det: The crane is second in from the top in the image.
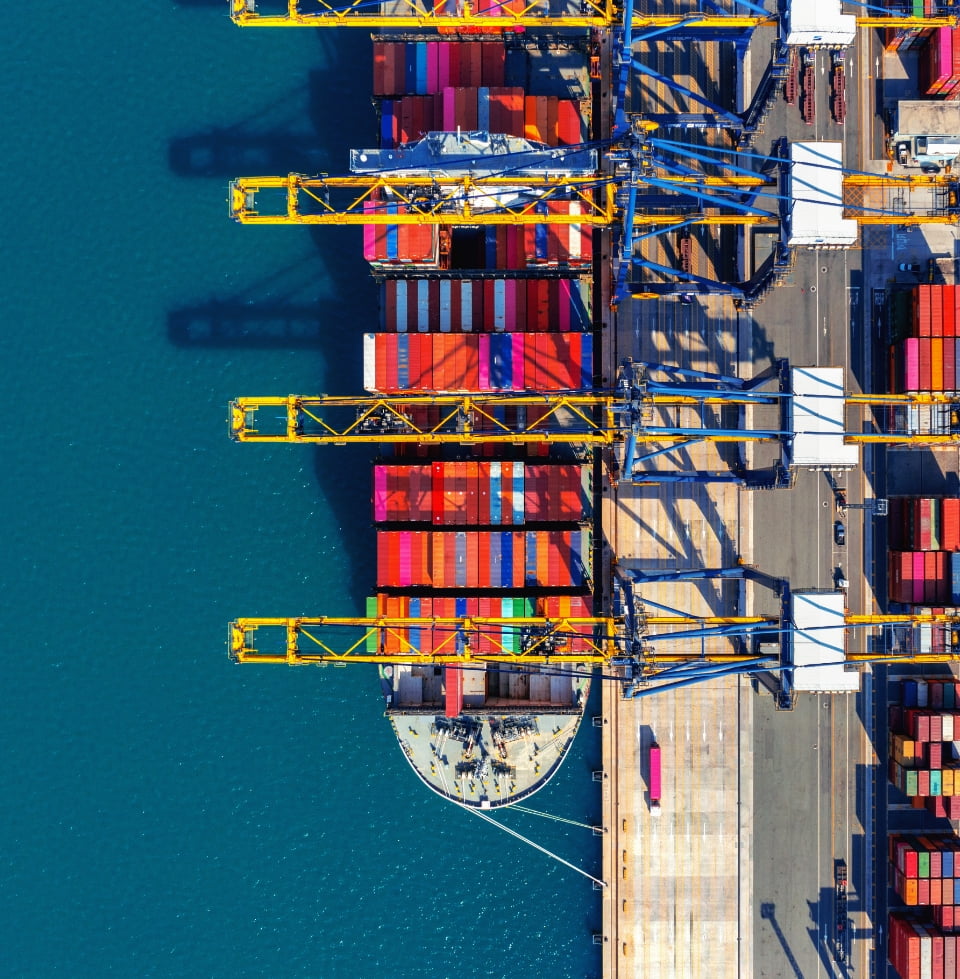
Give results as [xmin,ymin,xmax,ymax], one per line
[224,131,955,317]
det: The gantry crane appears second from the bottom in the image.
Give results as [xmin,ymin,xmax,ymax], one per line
[224,352,955,498]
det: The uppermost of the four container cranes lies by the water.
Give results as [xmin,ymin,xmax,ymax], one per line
[224,0,955,154]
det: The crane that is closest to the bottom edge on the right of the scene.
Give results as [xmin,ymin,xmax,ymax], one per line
[224,551,955,713]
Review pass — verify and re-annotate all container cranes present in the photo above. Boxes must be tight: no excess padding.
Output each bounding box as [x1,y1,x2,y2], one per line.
[224,352,955,498]
[224,131,955,317]
[224,0,955,154]
[224,551,955,713]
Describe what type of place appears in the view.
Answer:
port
